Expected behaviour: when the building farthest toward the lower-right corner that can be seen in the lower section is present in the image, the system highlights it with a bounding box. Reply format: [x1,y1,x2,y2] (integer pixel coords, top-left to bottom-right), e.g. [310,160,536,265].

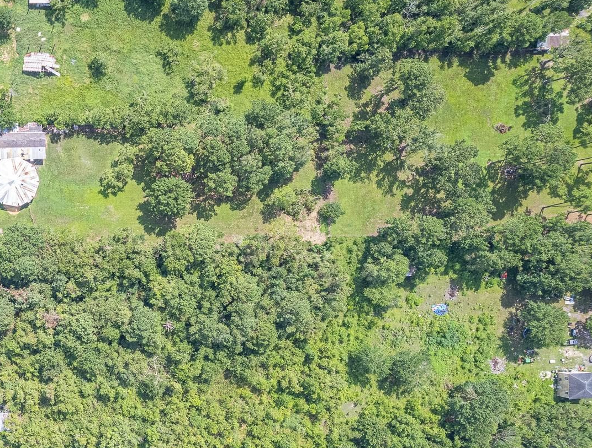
[558,372,592,399]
